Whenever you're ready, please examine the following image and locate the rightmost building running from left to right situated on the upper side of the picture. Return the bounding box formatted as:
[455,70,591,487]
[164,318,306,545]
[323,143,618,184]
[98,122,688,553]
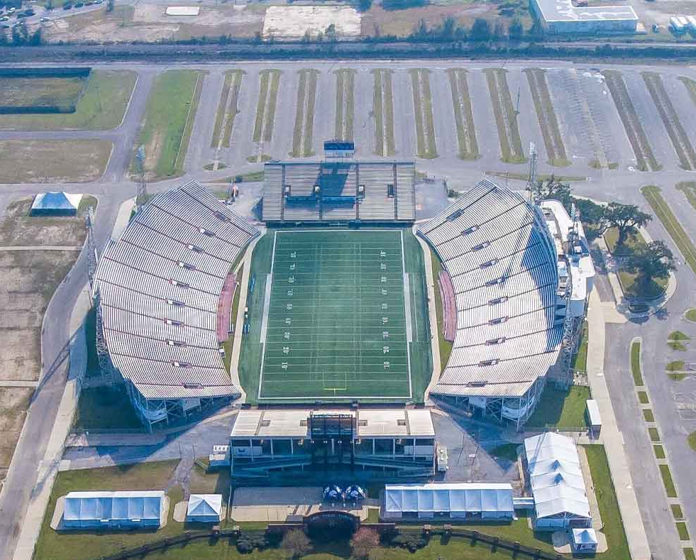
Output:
[528,0,637,34]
